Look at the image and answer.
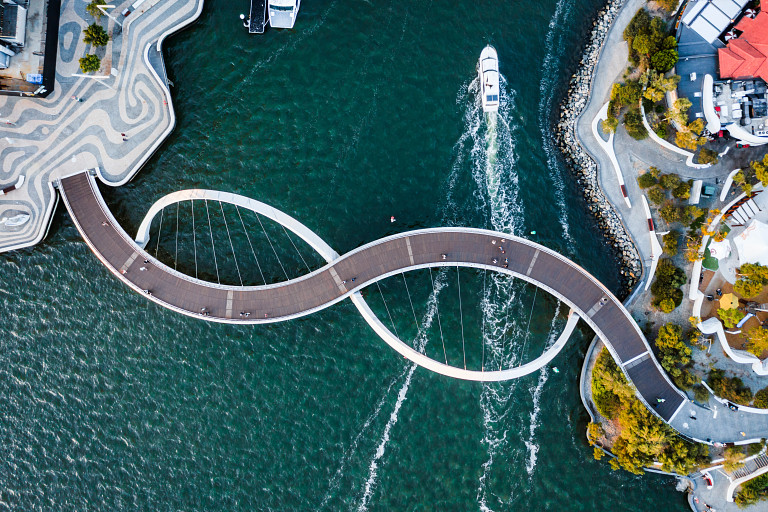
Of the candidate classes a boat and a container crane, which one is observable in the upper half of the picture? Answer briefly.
boat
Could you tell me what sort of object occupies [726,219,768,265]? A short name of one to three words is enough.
tent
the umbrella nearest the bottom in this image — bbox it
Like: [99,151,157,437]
[719,291,740,310]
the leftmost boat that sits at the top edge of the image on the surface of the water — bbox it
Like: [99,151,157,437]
[269,0,297,29]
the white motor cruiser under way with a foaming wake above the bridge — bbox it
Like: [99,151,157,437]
[482,41,500,114]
